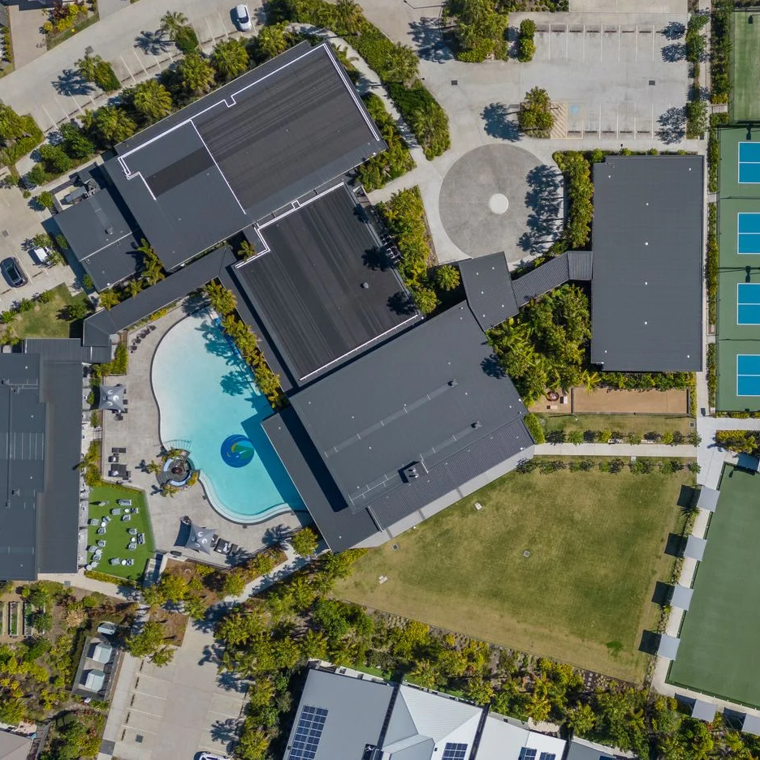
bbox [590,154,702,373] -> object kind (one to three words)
building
